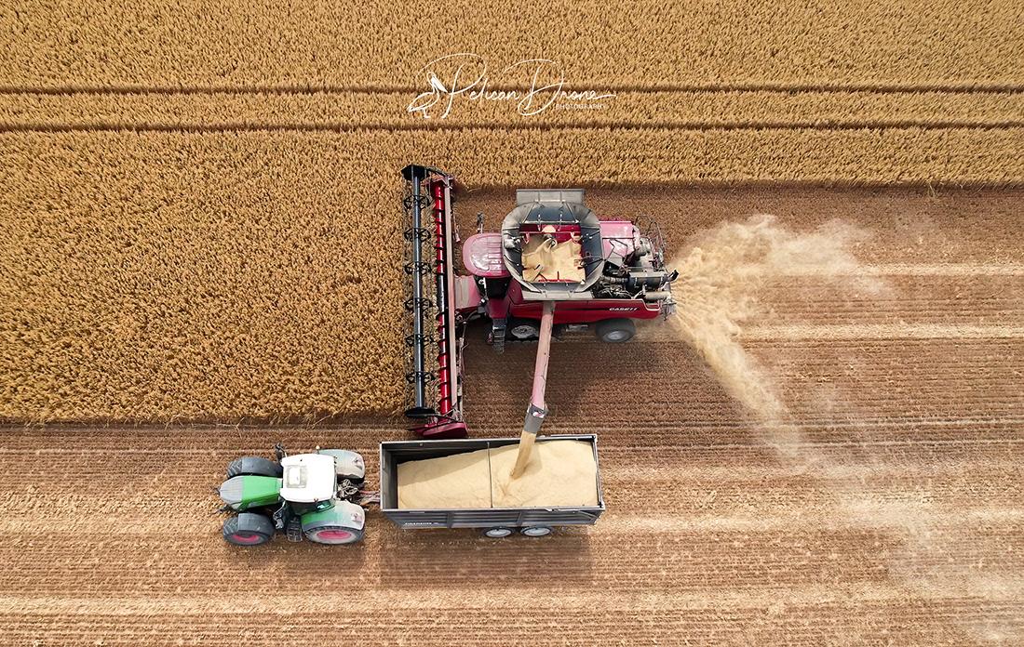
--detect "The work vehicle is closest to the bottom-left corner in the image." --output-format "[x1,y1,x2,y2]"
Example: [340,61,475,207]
[212,447,374,546]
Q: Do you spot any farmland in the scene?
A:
Yes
